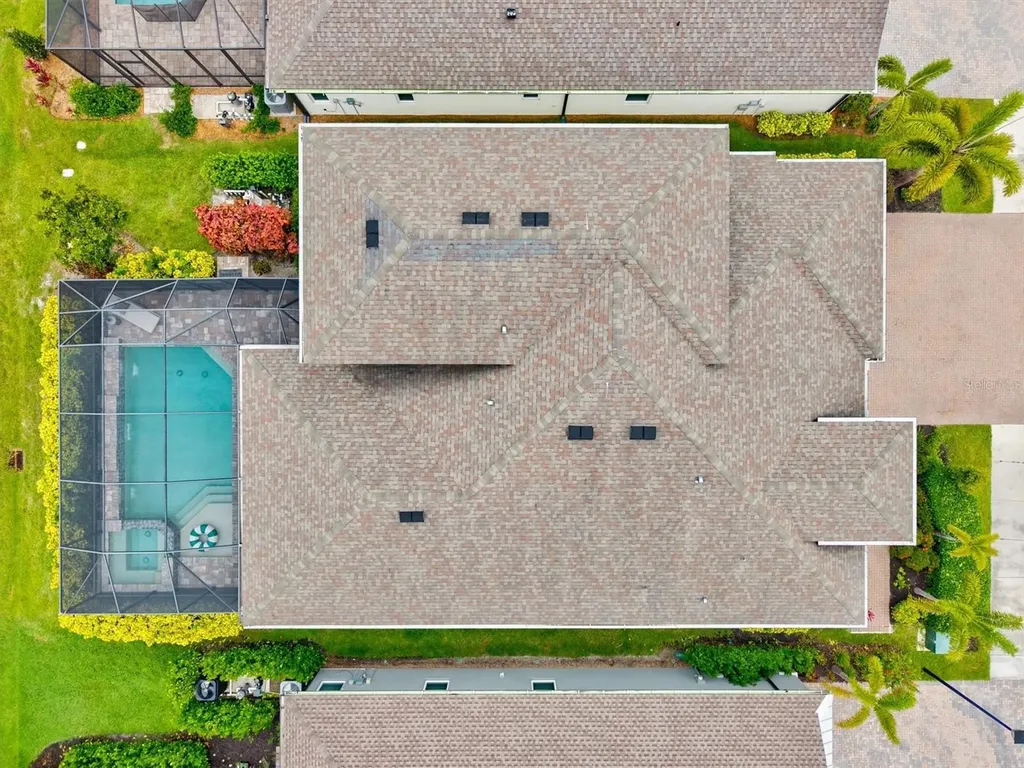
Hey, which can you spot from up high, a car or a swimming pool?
swimming pool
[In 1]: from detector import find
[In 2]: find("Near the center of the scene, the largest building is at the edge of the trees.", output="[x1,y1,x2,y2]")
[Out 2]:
[238,123,917,629]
